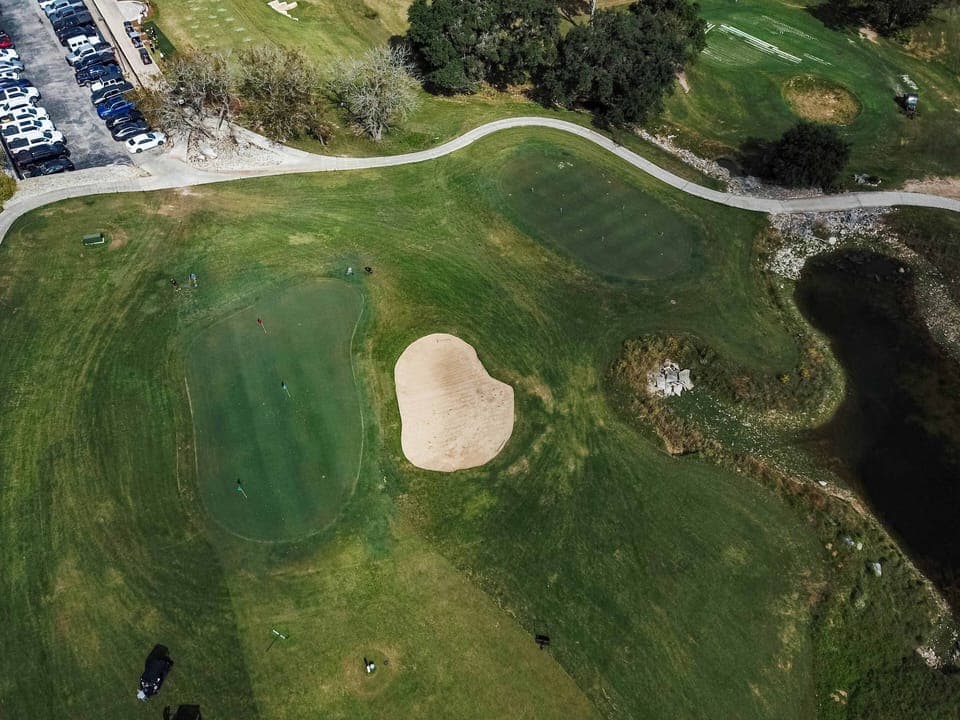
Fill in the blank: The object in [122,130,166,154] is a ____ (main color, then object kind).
white car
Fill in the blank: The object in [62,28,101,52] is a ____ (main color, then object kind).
white car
